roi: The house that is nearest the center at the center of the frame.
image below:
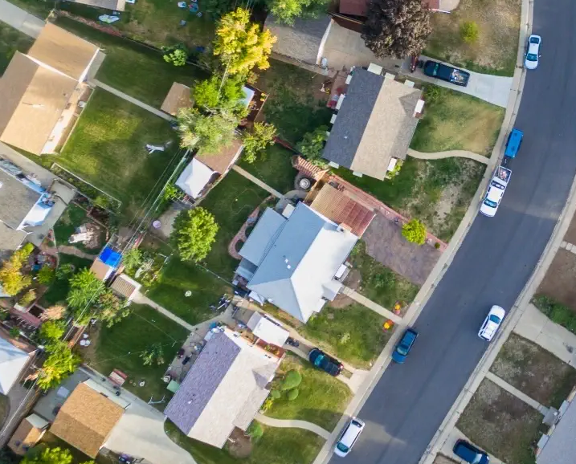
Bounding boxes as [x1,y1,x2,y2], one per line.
[236,203,358,323]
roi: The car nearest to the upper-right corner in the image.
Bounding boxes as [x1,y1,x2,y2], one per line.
[524,34,541,69]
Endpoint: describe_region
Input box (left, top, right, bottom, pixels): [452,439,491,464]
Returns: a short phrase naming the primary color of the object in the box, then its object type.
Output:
blue car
